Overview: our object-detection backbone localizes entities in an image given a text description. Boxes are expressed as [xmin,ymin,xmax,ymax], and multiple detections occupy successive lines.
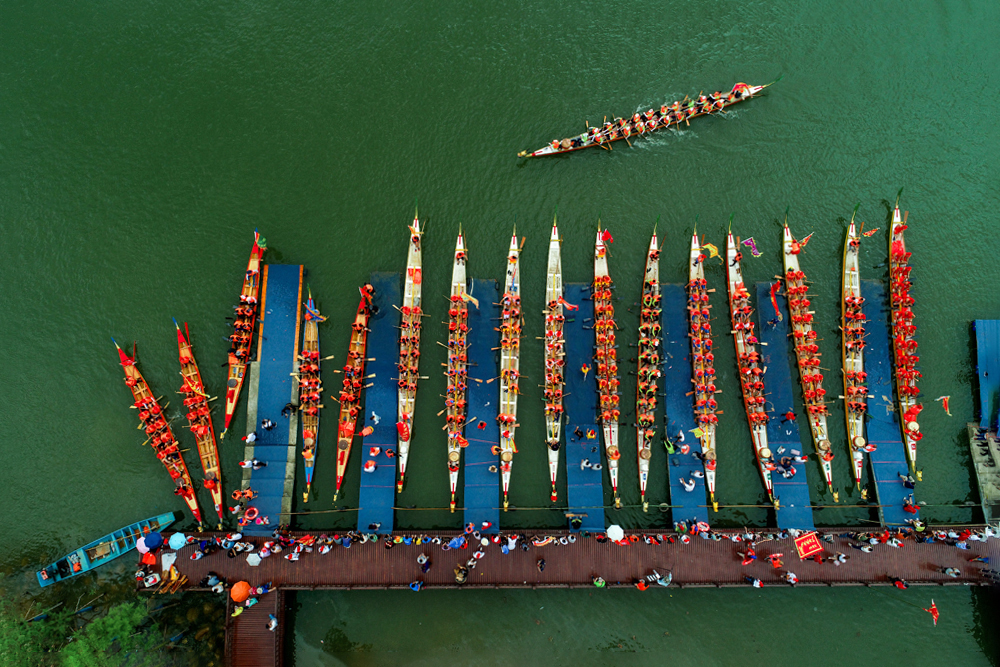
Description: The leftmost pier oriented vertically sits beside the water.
[237,265,306,534]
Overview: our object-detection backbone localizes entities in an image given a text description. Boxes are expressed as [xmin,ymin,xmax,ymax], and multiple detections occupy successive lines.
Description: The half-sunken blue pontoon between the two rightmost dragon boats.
[861,279,917,534]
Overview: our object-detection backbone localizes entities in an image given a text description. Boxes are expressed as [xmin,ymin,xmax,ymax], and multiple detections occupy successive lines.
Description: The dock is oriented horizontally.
[126,532,1000,667]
